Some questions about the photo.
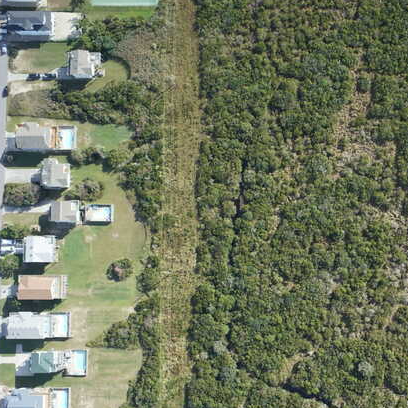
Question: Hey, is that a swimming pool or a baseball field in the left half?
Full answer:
What appears in the left half is a swimming pool.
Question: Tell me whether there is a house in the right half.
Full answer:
No, the scene shows no house in the right half.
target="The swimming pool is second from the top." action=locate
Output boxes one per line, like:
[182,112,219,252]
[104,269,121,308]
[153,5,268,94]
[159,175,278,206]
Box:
[85,205,114,223]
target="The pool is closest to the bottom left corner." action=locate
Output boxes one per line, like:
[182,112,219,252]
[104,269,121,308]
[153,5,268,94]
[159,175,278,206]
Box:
[51,388,71,408]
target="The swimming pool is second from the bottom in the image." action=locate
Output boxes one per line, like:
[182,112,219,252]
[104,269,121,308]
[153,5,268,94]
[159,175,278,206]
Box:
[66,350,88,376]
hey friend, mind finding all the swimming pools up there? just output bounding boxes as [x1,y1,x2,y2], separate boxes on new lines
[51,388,71,408]
[56,126,77,149]
[66,350,88,376]
[51,313,69,339]
[85,205,114,223]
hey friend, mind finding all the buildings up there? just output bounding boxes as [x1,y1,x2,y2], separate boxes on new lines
[66,49,103,80]
[22,236,62,262]
[7,311,54,339]
[39,159,77,189]
[11,275,70,301]
[0,11,57,45]
[51,201,85,224]
[14,122,59,150]
[28,350,67,373]
[0,387,54,408]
